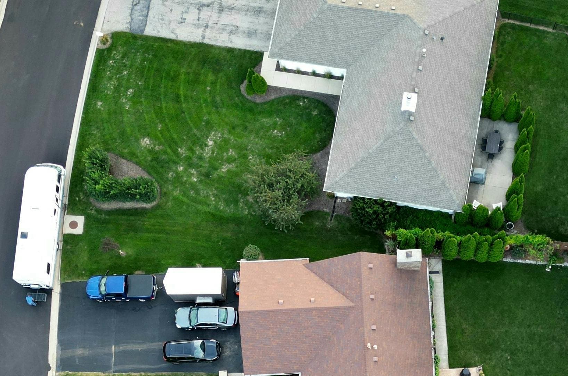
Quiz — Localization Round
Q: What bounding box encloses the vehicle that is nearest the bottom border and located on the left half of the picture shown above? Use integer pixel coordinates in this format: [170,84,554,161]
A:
[164,336,223,366]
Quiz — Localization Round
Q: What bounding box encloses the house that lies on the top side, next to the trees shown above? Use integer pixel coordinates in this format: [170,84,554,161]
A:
[266,0,501,219]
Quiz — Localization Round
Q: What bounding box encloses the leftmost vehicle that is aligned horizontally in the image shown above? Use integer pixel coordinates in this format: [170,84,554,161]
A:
[87,268,160,303]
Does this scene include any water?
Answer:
No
